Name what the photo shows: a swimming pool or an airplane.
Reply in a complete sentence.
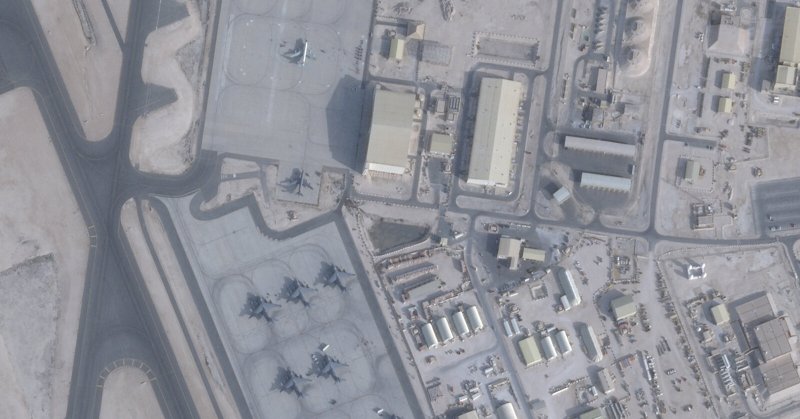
Visible in the photo is an airplane.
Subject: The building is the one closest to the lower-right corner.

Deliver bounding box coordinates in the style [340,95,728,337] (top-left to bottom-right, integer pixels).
[753,353,800,399]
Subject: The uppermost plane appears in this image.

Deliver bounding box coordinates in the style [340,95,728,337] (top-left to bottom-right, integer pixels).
[291,41,320,65]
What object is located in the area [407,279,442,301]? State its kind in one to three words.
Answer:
shed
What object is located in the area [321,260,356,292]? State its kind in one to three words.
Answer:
airplane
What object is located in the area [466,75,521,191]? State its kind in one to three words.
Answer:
building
